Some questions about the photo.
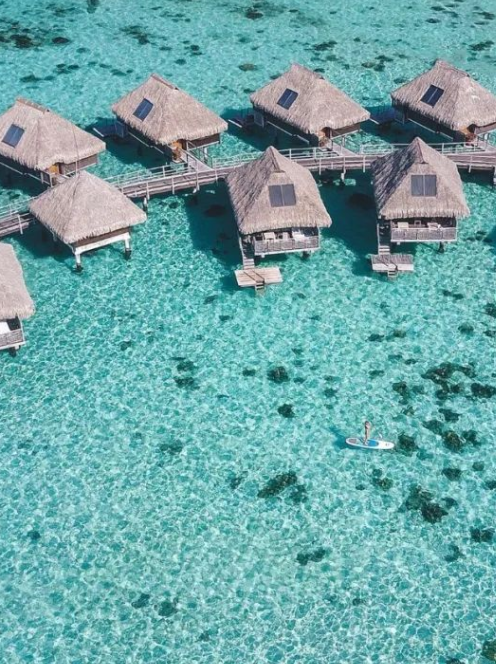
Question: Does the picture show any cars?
No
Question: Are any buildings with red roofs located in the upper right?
No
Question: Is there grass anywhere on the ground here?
No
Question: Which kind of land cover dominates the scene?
water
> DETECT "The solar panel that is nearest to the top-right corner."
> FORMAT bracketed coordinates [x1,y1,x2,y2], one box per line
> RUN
[420,85,445,107]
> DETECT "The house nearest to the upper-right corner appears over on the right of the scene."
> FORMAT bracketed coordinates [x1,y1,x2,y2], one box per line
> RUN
[369,61,496,152]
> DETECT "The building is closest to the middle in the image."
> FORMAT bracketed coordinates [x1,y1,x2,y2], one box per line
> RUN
[227,147,333,291]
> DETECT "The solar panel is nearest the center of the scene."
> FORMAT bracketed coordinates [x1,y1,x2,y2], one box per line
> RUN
[269,186,297,209]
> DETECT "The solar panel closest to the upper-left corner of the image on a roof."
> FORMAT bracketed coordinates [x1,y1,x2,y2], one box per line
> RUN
[1,123,25,148]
